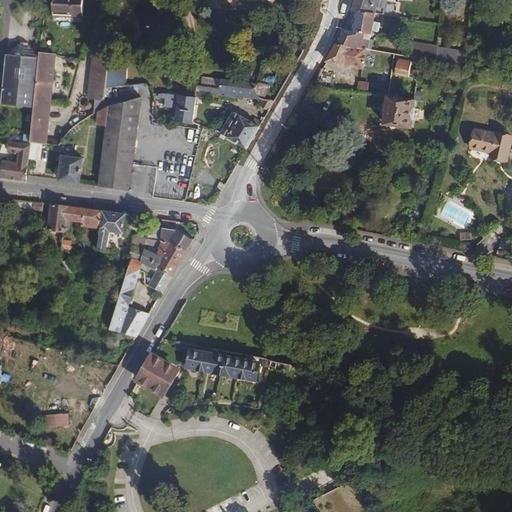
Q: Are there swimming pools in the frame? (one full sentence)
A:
Yes, you can see a swimming pool in this photo.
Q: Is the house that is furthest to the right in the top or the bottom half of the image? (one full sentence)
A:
The top half of the photo is where the house that is furthest to the right is.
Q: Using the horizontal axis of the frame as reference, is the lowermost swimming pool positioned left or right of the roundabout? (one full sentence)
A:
Looking at the picture, you'll find the lowermost swimming pool to the right of the roundabout.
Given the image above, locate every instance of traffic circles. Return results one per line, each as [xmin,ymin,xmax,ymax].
[190,169,298,279]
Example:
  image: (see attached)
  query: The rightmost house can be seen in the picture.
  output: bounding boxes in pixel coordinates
[470,127,512,163]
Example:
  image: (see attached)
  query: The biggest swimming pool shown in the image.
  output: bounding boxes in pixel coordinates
[435,197,474,228]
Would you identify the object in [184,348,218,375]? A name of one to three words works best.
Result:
house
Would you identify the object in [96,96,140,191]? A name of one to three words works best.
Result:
barn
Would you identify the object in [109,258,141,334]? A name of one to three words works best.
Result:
building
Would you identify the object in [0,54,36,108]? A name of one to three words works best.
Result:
building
